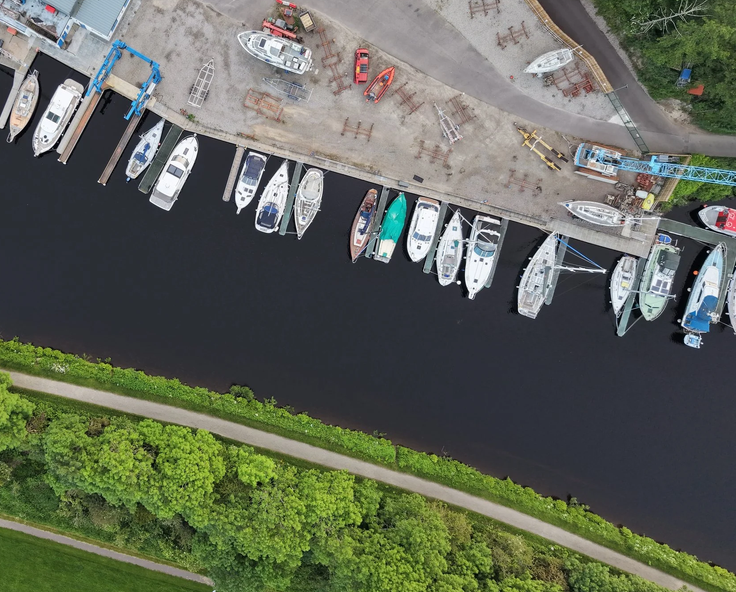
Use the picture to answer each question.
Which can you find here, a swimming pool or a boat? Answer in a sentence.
I can see a boat in this picture.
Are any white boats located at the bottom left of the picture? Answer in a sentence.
No, there's no white boat to be seen at the bottom left of the picture.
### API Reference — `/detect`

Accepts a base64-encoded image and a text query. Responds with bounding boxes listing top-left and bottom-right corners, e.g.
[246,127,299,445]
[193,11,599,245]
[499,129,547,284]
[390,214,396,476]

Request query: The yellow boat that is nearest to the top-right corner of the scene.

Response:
[642,194,655,210]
